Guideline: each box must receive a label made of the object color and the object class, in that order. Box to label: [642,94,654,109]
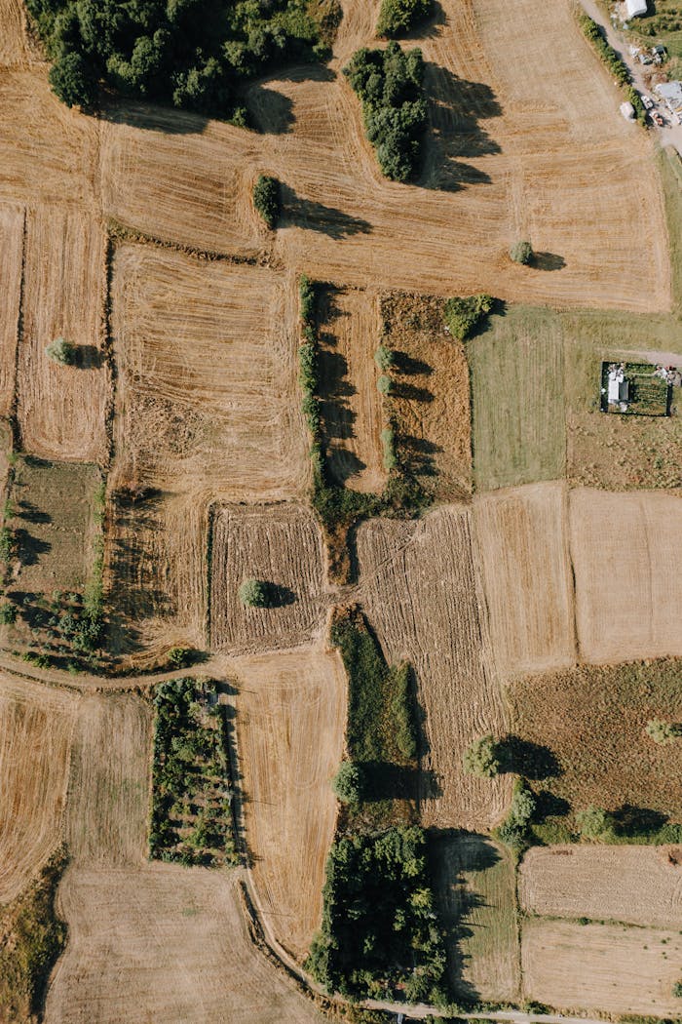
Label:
white vehicle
